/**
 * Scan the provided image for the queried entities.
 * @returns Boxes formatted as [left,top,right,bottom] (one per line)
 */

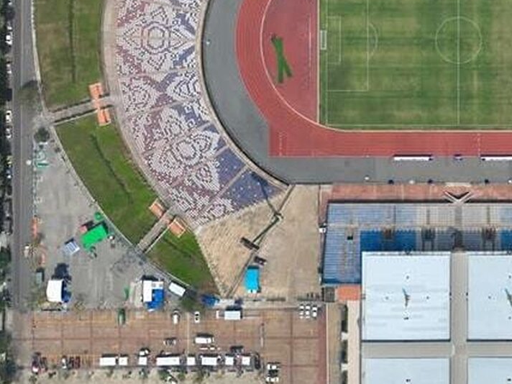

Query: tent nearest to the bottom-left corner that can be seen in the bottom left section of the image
[48,276,72,301]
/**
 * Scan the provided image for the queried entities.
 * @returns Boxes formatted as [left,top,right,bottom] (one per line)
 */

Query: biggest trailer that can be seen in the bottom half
[137,276,162,308]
